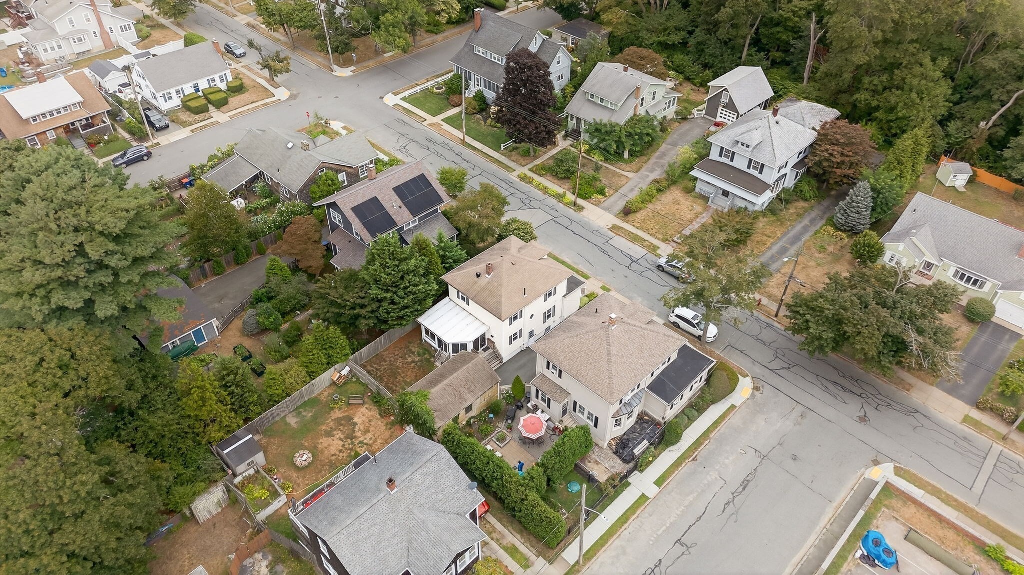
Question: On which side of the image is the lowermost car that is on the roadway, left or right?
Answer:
right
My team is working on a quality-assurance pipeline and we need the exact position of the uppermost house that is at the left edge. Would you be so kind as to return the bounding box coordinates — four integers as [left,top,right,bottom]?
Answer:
[0,0,142,62]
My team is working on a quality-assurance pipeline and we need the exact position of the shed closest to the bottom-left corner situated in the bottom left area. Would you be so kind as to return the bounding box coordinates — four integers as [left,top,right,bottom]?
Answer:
[217,428,265,477]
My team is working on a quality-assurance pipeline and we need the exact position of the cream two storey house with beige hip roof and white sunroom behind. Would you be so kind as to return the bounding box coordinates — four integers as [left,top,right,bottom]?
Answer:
[416,235,588,363]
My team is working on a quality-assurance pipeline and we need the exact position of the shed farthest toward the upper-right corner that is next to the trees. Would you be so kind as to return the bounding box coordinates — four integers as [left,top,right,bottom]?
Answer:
[936,155,973,190]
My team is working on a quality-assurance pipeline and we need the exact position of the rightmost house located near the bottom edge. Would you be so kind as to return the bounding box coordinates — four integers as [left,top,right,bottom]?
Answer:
[288,432,487,575]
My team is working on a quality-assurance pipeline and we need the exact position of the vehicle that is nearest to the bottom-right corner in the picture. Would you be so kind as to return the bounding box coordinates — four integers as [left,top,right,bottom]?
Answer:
[674,304,722,342]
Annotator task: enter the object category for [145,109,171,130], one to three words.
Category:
truck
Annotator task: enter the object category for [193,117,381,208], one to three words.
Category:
house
